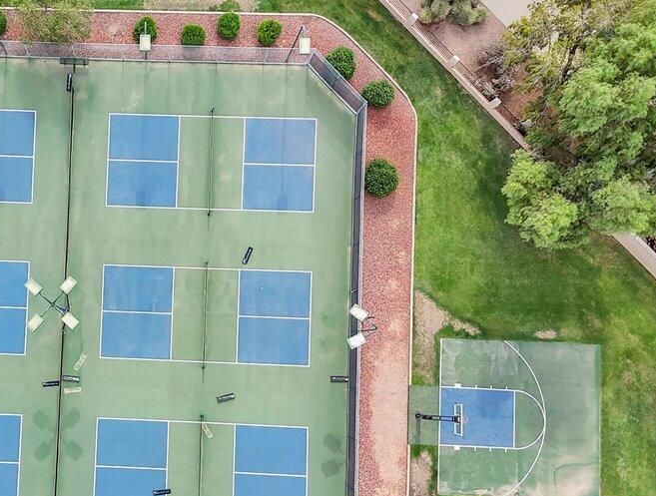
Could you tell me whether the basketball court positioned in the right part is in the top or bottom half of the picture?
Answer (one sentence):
The basketball court positioned in the right part sits in the bottom half of the picture.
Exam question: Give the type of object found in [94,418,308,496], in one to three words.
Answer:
sports court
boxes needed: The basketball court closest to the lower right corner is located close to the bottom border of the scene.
[411,339,601,496]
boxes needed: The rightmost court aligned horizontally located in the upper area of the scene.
[105,112,316,213]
